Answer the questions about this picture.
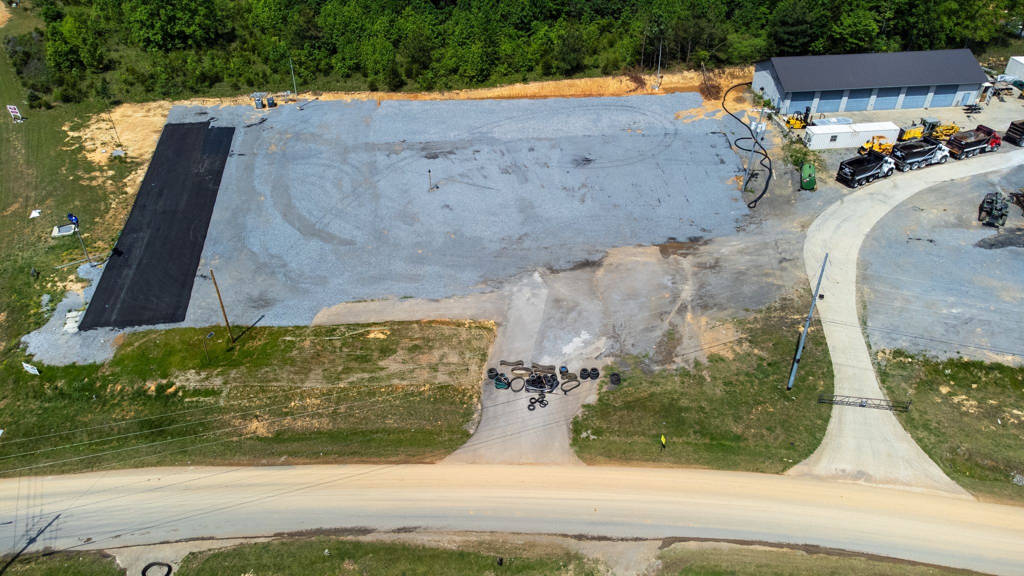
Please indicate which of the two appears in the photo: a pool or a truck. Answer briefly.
truck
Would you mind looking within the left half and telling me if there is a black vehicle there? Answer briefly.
No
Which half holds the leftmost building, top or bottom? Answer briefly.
top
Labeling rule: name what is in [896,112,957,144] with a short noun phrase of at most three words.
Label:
work vehicle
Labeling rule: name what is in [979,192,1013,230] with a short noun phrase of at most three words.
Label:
work vehicle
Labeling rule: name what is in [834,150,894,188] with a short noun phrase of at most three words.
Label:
truck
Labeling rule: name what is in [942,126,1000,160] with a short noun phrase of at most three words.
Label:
truck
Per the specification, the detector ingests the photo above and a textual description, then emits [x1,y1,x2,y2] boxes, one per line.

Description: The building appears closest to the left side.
[746,49,994,113]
